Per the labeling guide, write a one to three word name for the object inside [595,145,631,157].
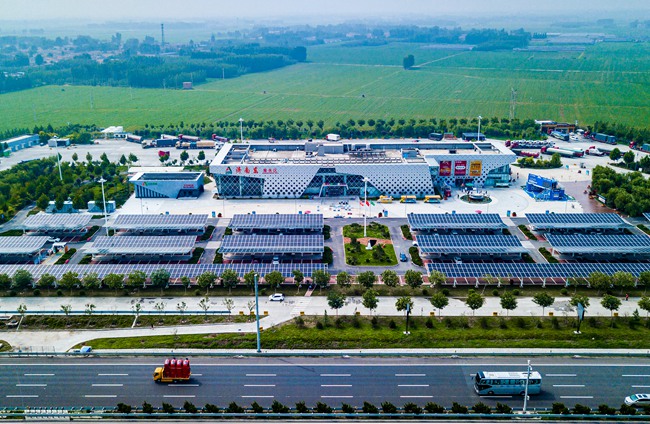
vehicle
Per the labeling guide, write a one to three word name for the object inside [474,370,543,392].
bus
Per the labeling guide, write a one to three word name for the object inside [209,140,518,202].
building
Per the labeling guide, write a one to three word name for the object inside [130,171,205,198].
building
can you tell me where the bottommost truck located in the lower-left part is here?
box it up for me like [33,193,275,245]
[151,361,192,385]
